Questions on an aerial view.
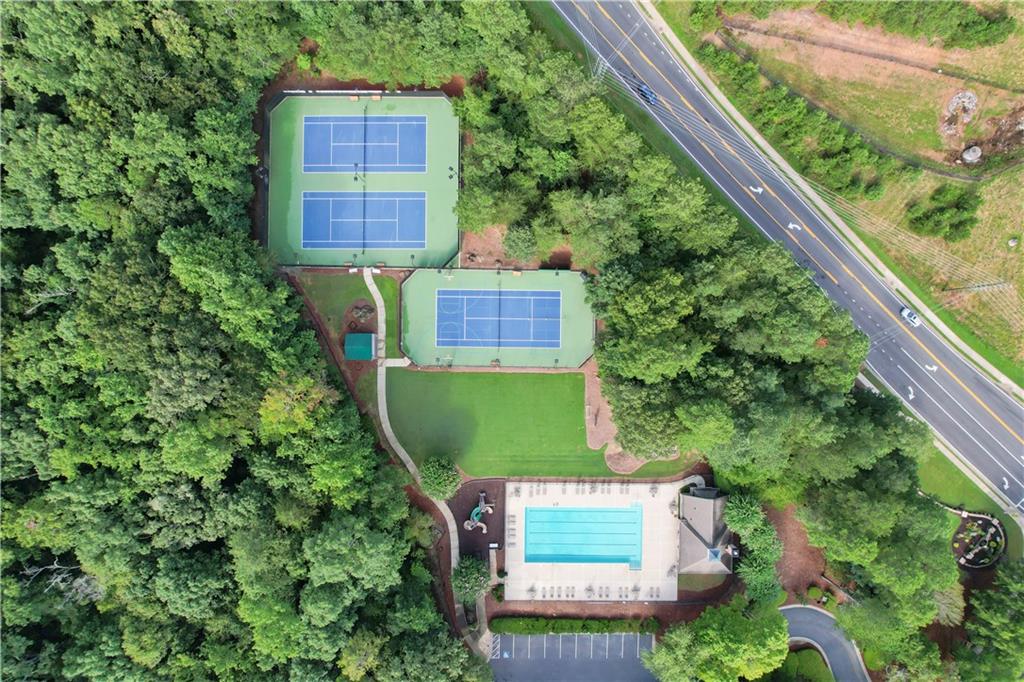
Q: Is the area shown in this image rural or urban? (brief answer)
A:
rural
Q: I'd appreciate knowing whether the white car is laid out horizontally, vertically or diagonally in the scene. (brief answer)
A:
diagonally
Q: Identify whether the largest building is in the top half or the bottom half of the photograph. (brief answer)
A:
bottom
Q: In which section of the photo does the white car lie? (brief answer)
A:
right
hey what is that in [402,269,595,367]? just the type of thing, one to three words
tennis court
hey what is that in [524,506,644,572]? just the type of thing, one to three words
swimming pool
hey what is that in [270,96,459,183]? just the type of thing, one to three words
tennis court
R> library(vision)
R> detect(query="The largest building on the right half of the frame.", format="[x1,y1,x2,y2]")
[678,481,742,574]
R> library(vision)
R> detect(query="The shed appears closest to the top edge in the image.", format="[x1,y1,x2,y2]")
[342,334,377,361]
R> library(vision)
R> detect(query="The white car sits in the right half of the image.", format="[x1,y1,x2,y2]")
[902,307,923,327]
